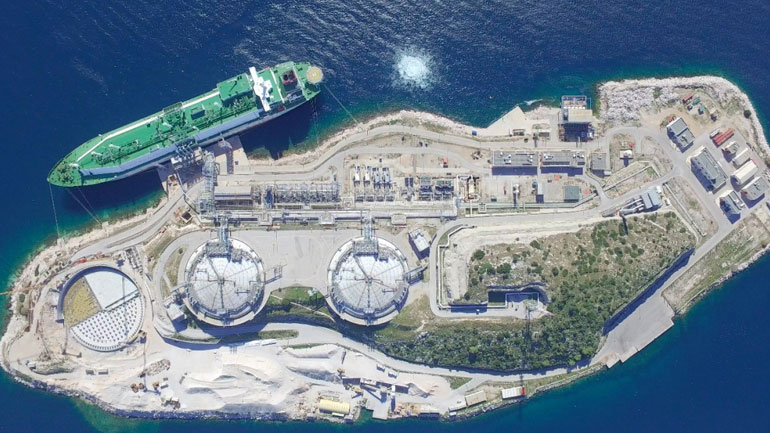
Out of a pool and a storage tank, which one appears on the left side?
storage tank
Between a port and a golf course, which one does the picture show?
port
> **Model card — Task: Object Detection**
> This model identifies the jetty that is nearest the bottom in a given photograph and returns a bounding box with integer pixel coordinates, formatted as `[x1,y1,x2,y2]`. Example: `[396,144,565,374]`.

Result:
[358,383,392,420]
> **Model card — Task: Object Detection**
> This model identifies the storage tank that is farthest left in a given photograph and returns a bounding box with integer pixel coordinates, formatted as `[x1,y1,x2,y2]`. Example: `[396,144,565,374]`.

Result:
[50,262,144,352]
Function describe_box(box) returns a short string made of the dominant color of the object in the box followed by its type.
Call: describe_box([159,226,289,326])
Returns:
white storage tank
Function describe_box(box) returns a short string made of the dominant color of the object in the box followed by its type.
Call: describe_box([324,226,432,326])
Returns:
white storage tank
